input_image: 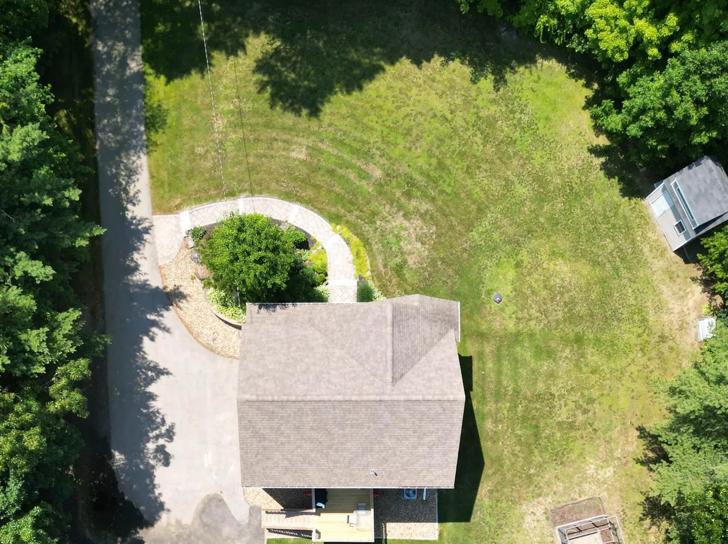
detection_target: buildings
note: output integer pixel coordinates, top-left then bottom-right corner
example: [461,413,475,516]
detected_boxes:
[646,154,728,252]
[235,288,464,490]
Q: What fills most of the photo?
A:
grass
